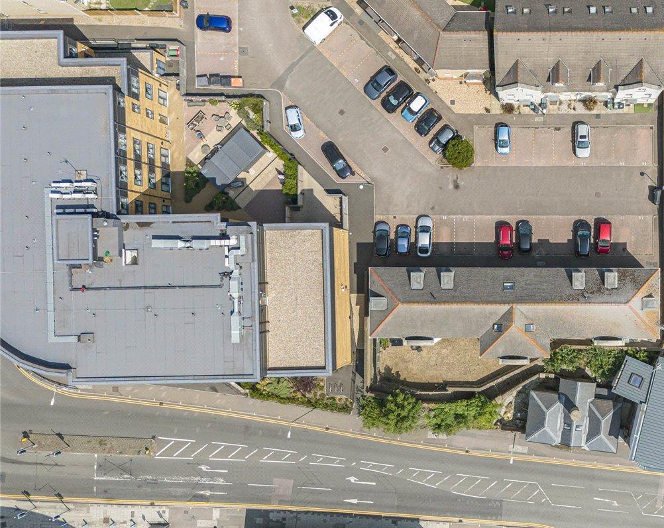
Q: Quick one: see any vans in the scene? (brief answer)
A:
Yes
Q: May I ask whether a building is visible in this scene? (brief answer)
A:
Yes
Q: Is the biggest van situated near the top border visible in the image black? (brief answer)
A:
No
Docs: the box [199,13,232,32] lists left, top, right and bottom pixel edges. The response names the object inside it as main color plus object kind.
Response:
blue car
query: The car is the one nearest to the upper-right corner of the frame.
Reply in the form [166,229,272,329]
[573,122,591,158]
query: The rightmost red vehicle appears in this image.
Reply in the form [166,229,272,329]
[595,221,612,253]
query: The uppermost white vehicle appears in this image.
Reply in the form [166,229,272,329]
[305,7,341,46]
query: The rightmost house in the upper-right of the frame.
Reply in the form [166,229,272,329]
[493,0,664,100]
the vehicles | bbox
[395,226,411,254]
[595,221,612,253]
[573,122,591,158]
[322,141,350,178]
[431,125,456,153]
[495,123,512,155]
[384,83,413,115]
[575,221,593,257]
[516,222,532,254]
[199,13,232,32]
[374,222,392,259]
[497,225,514,257]
[417,108,442,137]
[403,93,428,122]
[286,106,307,139]
[415,218,433,255]
[305,7,341,46]
[366,67,395,98]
